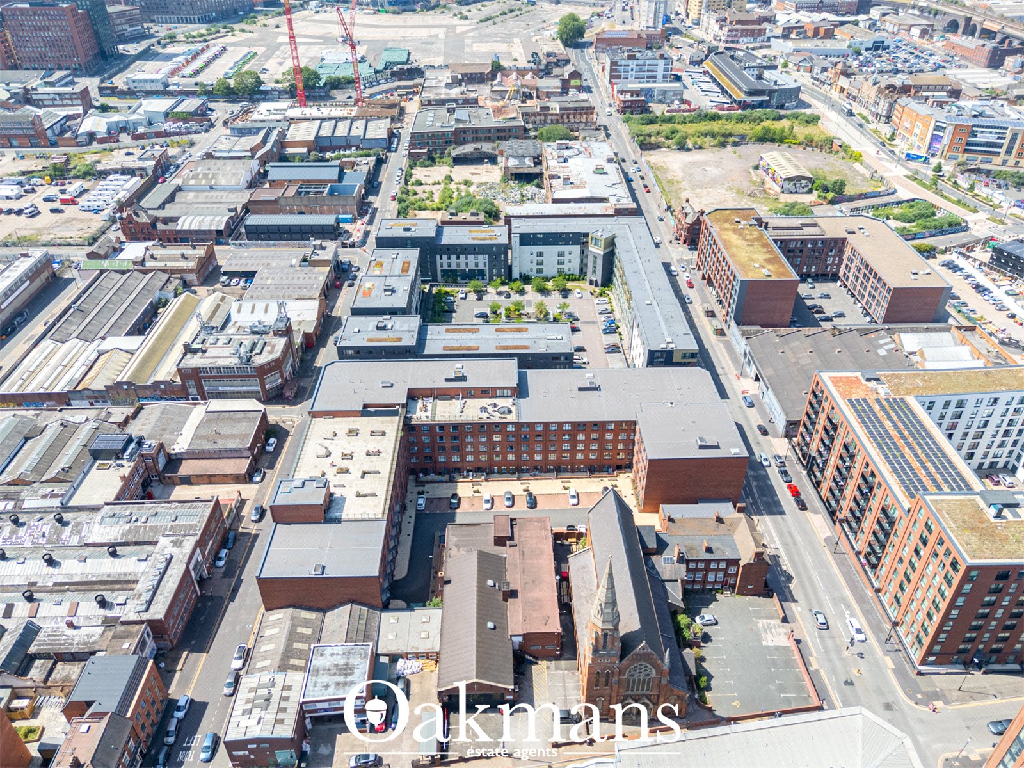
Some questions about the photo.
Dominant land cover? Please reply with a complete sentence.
For the most part, this view shows buildings.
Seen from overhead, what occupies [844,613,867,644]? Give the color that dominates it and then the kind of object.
white vehicle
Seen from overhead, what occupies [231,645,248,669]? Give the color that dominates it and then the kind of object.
white car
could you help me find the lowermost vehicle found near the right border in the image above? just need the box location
[986,720,1013,735]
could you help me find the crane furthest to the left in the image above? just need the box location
[283,0,309,107]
